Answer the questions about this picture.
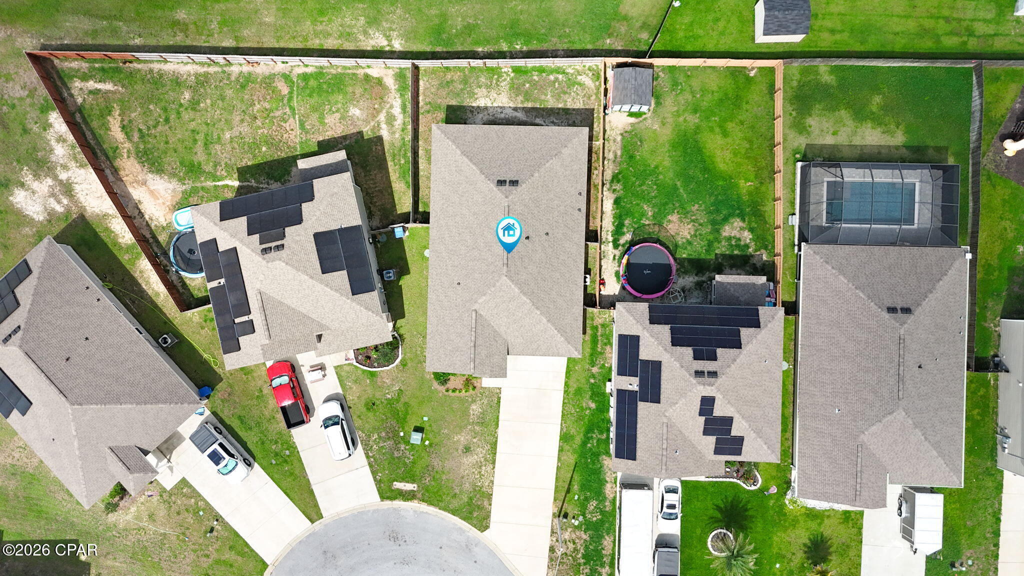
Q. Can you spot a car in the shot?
Yes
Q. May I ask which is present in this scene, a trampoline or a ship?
trampoline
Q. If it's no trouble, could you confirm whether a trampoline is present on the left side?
Yes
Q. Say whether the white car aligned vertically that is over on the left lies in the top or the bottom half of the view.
bottom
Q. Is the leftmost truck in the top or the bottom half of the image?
bottom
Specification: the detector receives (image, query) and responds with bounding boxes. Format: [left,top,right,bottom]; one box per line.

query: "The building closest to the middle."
[426,123,589,379]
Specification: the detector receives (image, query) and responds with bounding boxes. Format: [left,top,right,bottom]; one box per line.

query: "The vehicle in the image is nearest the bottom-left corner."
[189,418,255,485]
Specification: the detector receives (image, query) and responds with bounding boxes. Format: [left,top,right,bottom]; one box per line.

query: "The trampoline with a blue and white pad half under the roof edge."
[159,229,205,278]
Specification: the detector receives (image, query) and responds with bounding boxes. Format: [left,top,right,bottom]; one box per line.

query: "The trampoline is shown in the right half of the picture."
[620,242,681,298]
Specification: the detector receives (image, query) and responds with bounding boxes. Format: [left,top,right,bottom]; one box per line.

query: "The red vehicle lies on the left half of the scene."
[270,357,311,429]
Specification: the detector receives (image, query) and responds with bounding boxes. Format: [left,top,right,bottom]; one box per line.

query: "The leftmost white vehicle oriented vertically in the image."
[320,398,355,460]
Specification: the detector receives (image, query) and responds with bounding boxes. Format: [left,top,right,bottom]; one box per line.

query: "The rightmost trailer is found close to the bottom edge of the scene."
[897,488,944,561]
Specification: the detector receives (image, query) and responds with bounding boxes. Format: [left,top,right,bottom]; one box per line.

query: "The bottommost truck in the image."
[653,544,680,576]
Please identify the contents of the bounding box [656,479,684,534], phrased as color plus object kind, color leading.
white car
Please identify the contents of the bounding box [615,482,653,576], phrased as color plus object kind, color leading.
white trailer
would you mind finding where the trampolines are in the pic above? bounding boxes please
[620,242,681,298]
[159,229,205,278]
